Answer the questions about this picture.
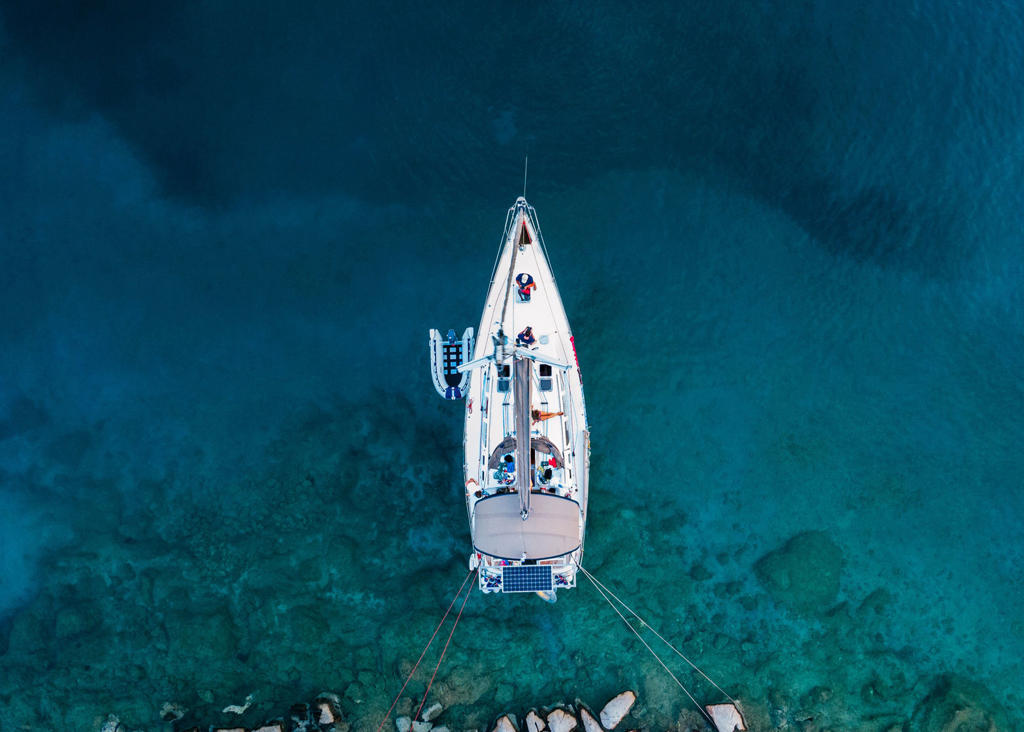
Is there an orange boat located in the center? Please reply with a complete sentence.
No, no orange boat can be made out in the center.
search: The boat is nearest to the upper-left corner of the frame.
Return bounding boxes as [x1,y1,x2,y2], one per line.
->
[429,328,475,399]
